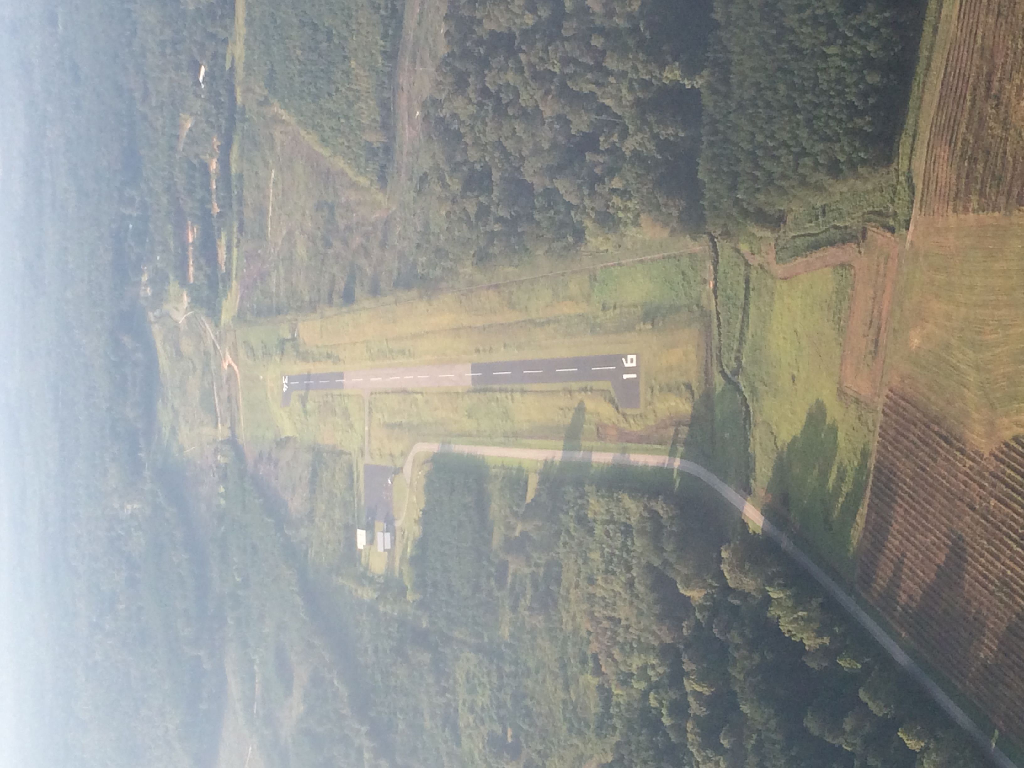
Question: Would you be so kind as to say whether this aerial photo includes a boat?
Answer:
No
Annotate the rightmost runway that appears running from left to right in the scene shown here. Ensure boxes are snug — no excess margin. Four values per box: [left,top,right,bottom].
[471,353,640,408]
